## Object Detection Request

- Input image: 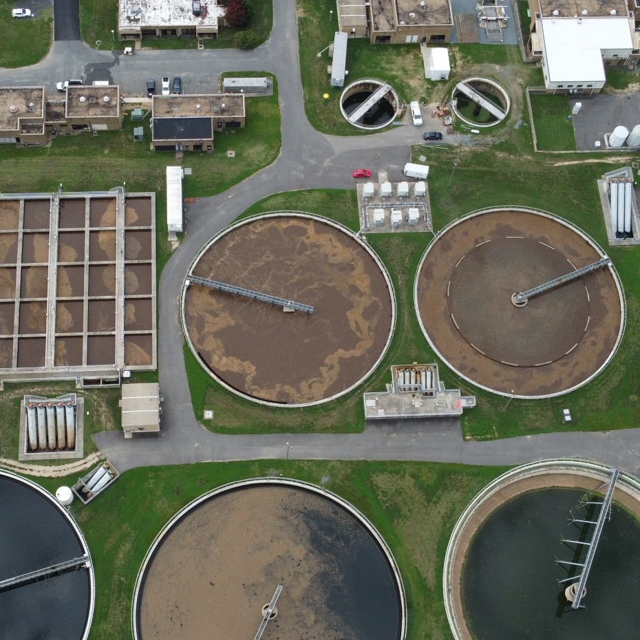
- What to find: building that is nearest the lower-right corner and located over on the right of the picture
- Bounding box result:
[363,360,476,420]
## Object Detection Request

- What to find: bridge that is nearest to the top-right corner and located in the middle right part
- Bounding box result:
[515,256,614,302]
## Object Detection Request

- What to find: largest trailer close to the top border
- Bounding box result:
[322,32,348,90]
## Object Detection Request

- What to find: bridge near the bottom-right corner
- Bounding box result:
[570,468,620,609]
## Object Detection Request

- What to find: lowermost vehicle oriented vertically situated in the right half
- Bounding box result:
[409,99,424,127]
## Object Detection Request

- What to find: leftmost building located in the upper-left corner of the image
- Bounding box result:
[0,86,122,142]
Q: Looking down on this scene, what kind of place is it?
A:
industrial area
